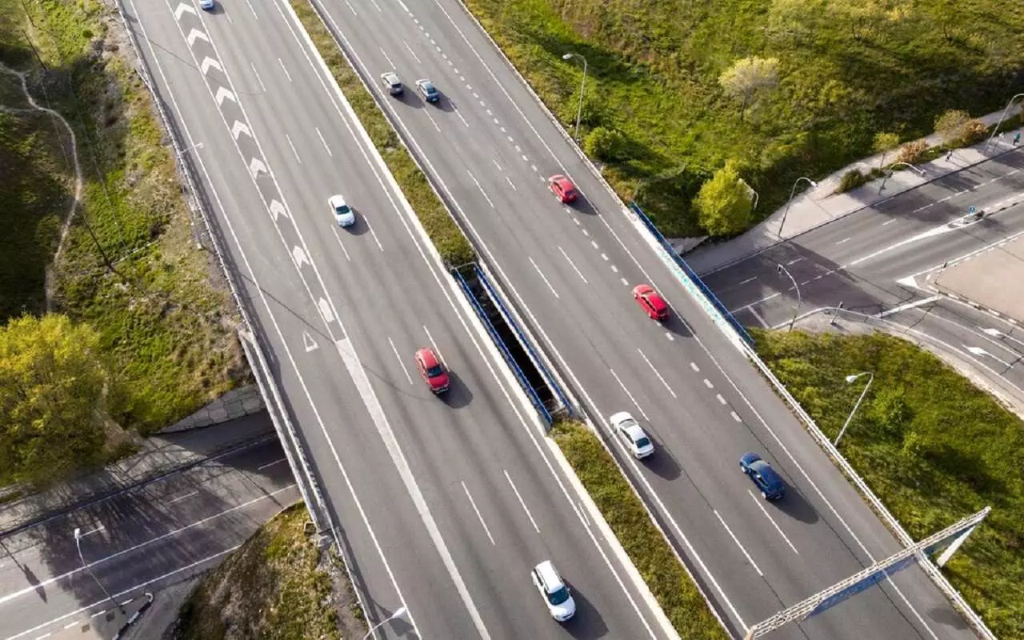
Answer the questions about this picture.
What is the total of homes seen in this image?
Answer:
0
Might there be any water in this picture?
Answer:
No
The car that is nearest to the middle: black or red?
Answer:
red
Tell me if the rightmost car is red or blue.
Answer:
blue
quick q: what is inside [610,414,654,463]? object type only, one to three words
car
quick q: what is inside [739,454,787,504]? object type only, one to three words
car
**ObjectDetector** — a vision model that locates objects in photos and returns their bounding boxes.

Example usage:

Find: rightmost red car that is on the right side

[633,287,670,322]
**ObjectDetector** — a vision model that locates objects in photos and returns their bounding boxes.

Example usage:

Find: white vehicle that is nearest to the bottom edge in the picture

[530,561,575,622]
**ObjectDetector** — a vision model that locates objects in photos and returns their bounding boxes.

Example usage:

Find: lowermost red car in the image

[415,348,450,392]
